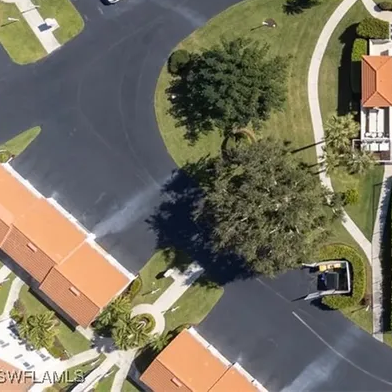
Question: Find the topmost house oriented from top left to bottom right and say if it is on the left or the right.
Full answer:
It is on the left.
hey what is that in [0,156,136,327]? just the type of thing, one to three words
house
